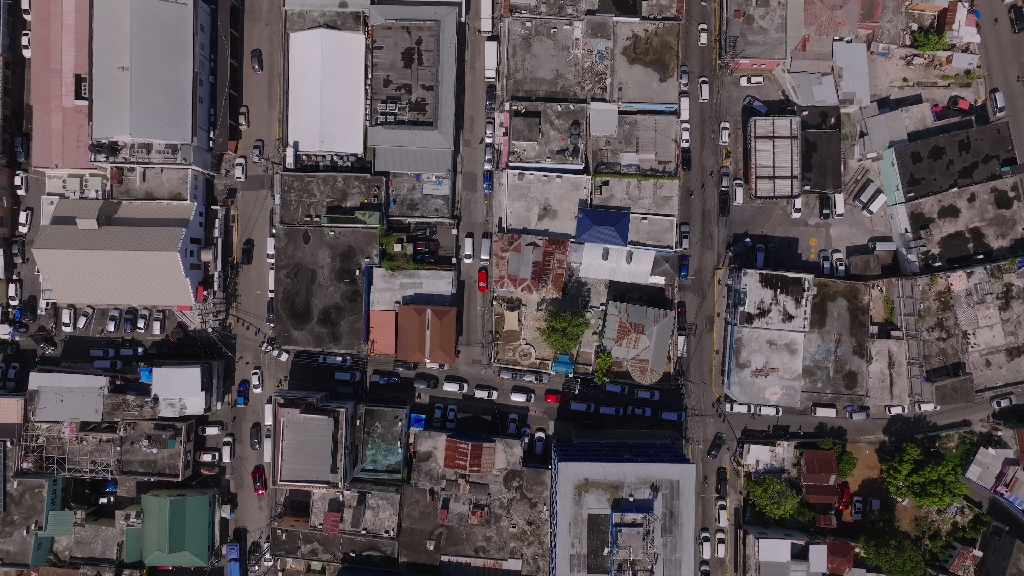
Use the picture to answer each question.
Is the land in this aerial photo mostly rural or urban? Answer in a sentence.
The area is urban.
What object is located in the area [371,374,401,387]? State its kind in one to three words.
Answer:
vehicle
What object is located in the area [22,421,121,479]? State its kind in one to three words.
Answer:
building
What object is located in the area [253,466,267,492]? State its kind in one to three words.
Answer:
car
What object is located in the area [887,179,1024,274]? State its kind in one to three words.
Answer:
building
